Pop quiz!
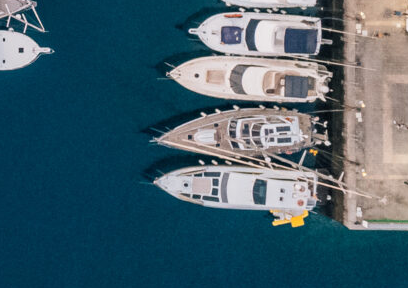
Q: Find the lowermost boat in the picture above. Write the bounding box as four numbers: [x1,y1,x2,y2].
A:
[142,160,340,215]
